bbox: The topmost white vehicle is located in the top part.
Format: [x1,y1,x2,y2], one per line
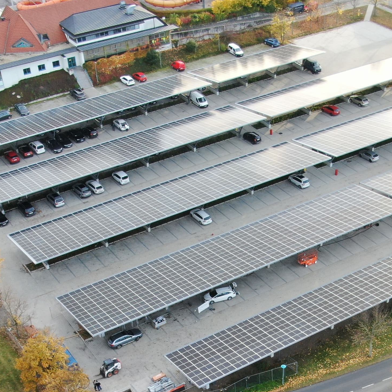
[227,42,243,55]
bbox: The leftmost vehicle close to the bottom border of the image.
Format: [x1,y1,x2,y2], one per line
[91,356,121,382]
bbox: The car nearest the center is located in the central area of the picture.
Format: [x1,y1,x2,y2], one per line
[189,211,213,229]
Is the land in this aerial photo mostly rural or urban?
urban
